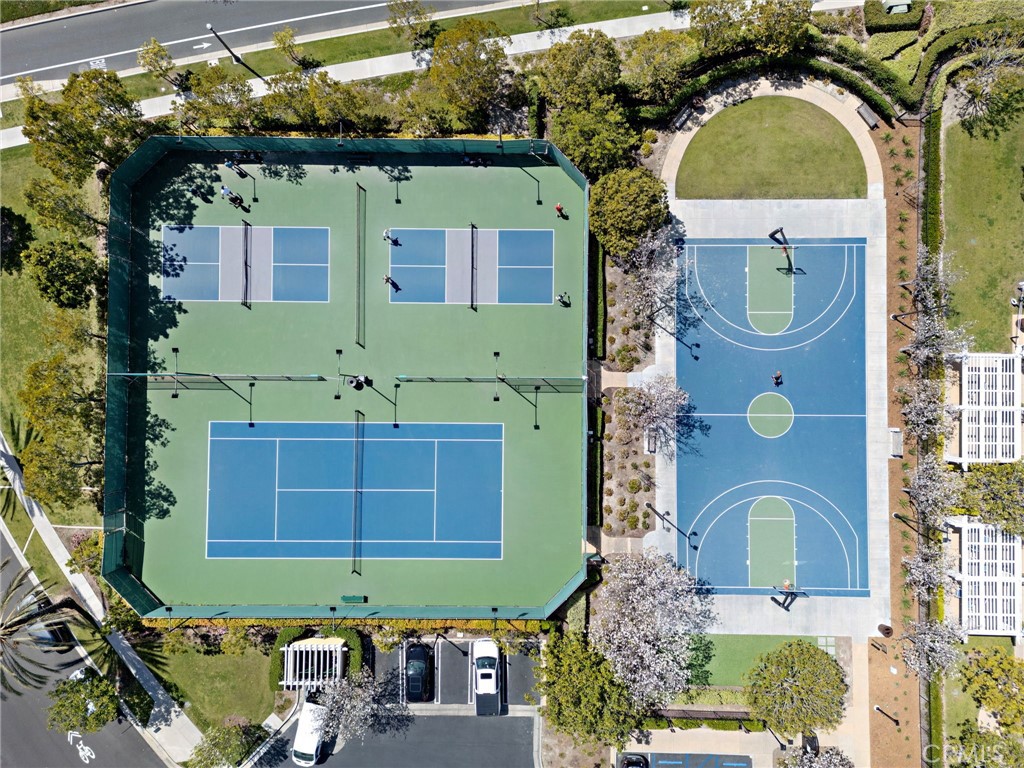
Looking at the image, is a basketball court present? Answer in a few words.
Yes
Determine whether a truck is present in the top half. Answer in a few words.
No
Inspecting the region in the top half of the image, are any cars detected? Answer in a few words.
No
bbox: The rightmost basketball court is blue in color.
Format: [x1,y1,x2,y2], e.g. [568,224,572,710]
[676,238,870,597]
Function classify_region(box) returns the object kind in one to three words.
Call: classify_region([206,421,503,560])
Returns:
tennis court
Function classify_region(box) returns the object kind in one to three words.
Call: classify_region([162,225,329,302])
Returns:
sports court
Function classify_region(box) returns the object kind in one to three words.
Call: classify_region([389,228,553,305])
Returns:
sports court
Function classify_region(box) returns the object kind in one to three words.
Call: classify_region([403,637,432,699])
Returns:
car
